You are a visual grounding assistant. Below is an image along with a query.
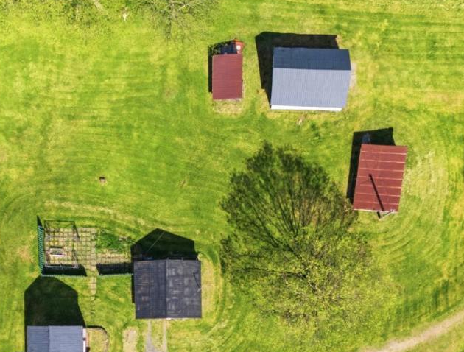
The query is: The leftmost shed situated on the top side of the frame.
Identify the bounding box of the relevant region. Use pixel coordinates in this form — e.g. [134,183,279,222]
[212,53,243,104]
